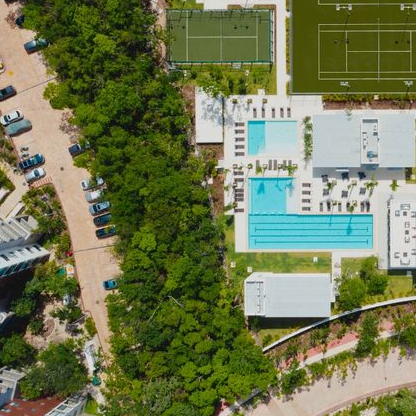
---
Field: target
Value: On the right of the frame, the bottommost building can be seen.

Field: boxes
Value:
[245,272,332,318]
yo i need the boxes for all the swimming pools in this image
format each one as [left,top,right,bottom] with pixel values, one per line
[247,176,374,250]
[246,120,299,156]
